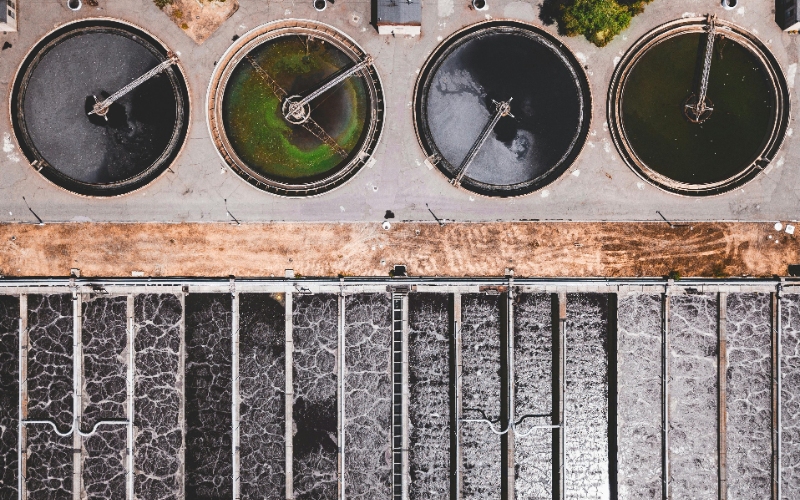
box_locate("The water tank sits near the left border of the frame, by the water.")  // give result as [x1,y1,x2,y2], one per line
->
[10,17,191,197]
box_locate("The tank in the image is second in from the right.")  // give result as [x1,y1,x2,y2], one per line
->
[412,18,593,198]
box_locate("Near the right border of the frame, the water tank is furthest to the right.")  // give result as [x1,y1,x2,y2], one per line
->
[607,16,789,198]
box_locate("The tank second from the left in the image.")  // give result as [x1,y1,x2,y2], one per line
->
[205,18,386,198]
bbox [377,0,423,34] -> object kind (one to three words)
building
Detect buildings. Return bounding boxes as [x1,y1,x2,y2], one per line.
[783,0,800,30]
[377,0,423,34]
[0,0,17,31]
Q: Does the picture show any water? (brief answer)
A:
Yes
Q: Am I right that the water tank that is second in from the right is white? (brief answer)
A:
No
